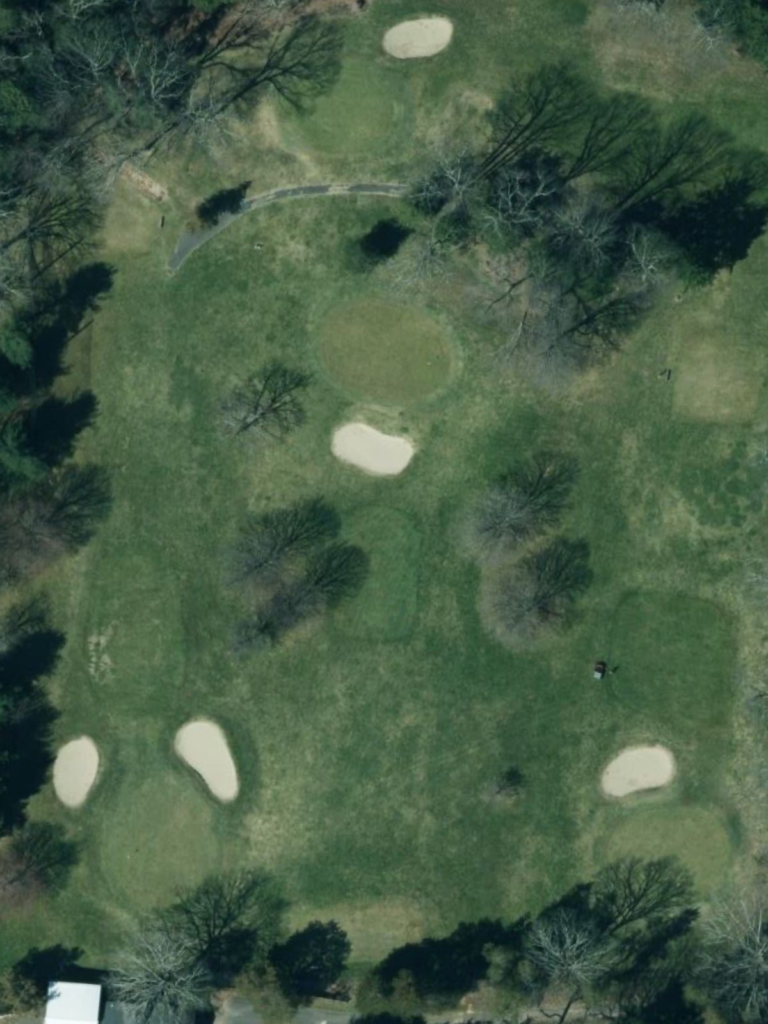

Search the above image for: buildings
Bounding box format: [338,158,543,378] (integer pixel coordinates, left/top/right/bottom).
[46,984,101,1024]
